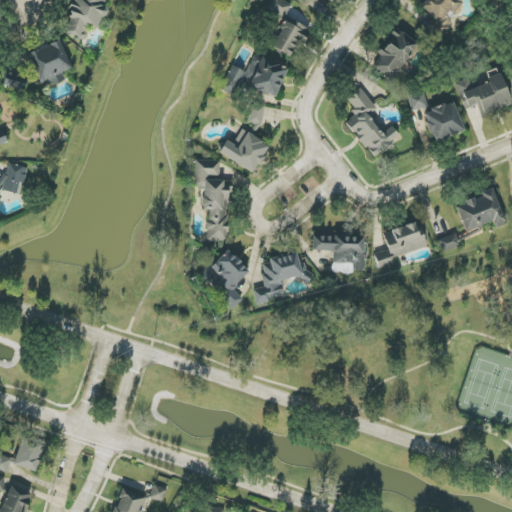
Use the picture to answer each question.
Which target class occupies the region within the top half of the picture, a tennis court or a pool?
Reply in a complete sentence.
Visible within the top half of the picture is a pool.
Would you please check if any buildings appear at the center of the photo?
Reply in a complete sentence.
Yes, a building shows up at the center of the photo.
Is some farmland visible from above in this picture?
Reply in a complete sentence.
No, the picture contains no farmland.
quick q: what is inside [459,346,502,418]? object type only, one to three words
tennis court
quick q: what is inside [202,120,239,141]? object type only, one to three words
swimming pool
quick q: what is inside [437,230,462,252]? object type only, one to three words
building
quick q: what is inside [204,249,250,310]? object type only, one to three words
house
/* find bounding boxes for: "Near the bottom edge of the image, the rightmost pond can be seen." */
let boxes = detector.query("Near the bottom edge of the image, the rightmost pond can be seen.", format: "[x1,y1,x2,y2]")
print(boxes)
[159,398,512,512]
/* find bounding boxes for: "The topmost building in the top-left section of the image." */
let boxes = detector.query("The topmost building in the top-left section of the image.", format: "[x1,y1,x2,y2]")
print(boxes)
[68,0,108,38]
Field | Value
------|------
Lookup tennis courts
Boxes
[484,354,512,427]
[459,346,502,418]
